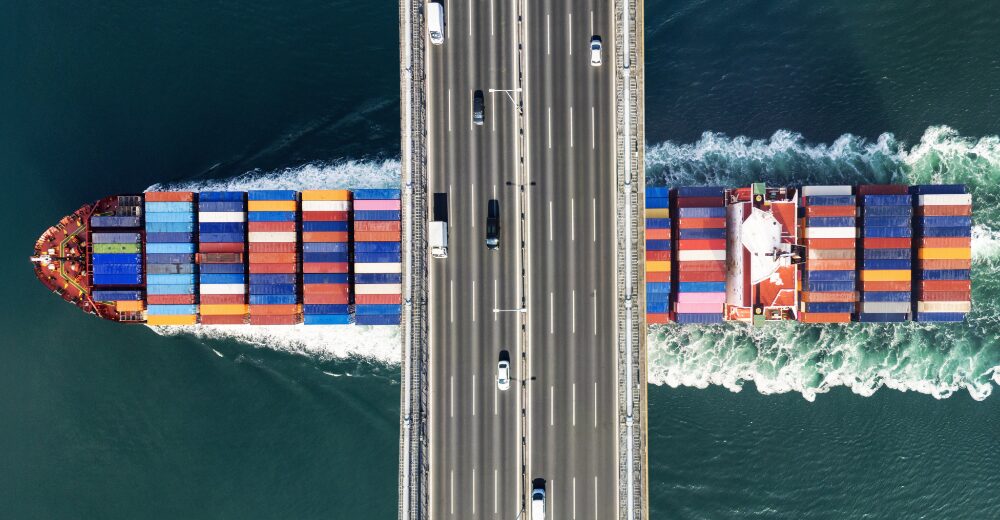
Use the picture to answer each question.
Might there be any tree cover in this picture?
No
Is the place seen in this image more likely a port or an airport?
port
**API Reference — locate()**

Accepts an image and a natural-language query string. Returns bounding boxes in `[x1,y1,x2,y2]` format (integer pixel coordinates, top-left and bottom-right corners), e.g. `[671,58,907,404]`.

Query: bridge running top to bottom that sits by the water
[396,0,646,520]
